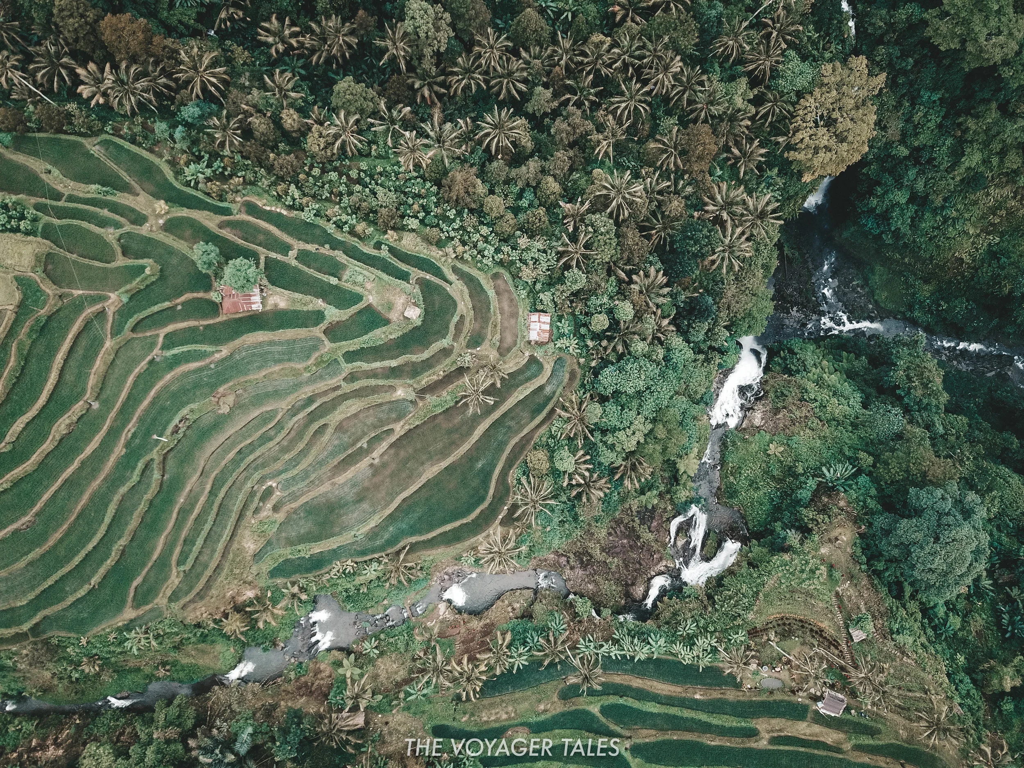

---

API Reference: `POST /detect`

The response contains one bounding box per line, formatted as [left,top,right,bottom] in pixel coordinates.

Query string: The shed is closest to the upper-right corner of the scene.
[528,313,552,345]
